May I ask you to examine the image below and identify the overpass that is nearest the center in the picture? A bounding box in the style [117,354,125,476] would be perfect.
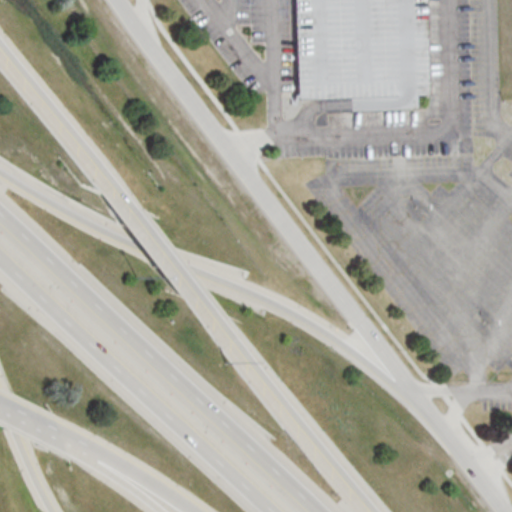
[112,198,215,314]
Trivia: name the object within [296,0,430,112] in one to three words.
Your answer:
building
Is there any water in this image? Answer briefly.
No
